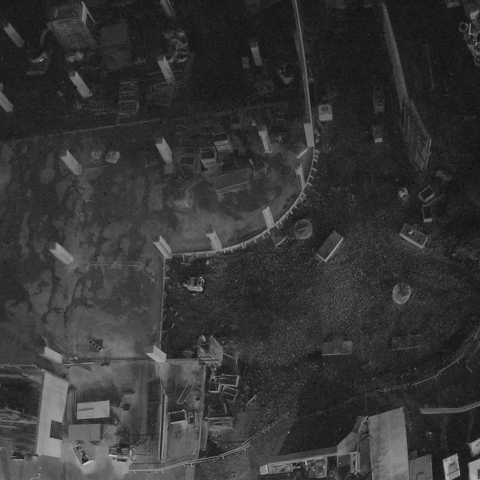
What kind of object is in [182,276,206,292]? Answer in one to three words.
vehicle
